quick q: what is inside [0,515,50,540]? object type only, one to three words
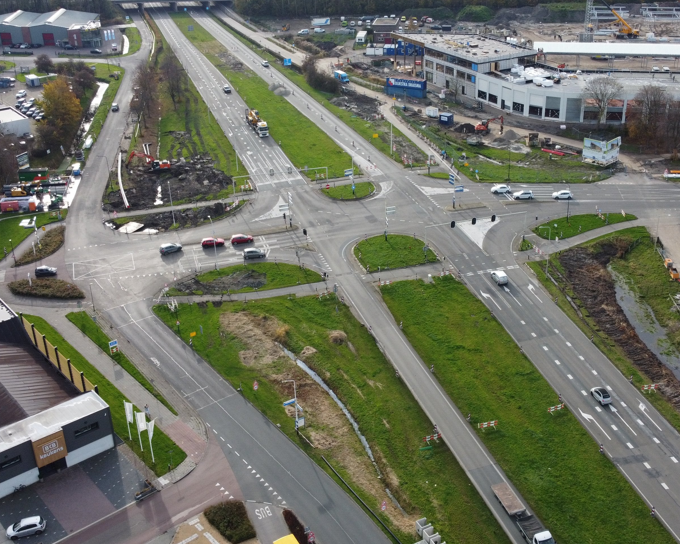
car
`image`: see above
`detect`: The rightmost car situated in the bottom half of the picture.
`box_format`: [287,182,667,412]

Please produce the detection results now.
[586,383,617,404]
